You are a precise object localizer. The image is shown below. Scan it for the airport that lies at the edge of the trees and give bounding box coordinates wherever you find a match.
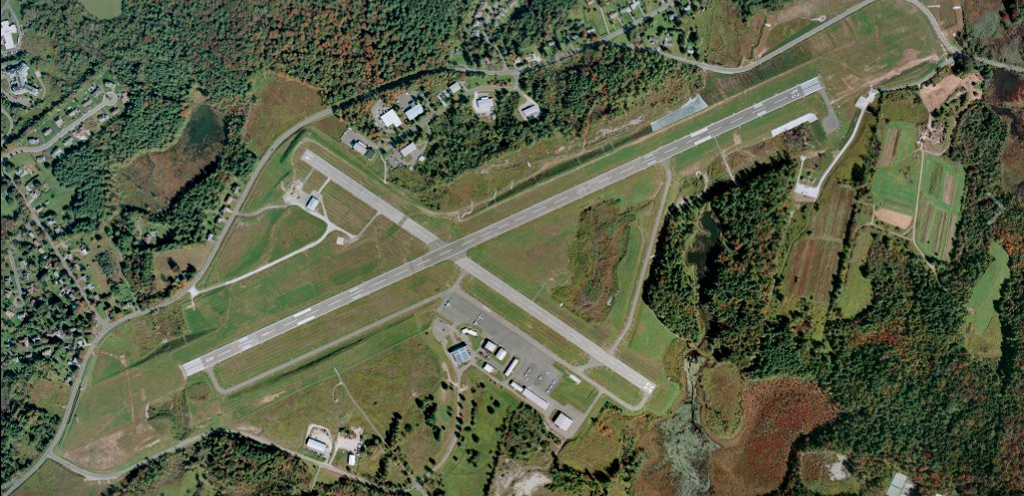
[179,75,839,452]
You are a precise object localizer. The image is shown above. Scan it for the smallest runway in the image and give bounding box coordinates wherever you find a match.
[301,149,655,394]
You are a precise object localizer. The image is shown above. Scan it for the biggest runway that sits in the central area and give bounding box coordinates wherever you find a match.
[182,75,825,377]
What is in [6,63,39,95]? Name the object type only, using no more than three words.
building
